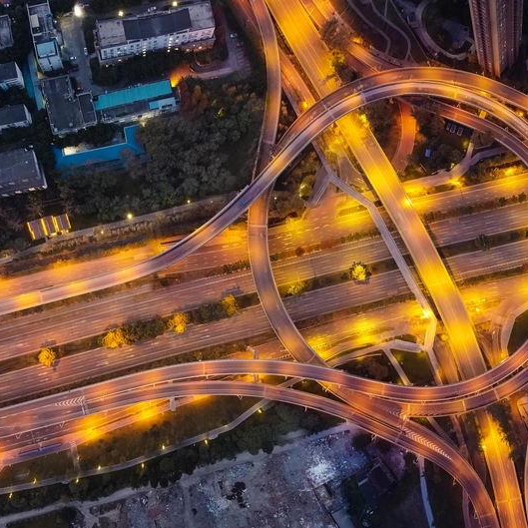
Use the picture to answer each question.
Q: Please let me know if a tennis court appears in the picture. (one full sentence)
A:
No, there isn't any tennis court down there.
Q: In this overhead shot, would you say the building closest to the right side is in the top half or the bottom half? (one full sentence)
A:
Seen from above, the building closest to the right side lies in the top half of the view.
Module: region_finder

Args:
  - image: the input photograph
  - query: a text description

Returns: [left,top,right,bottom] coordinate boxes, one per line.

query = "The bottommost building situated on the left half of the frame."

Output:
[27,215,74,240]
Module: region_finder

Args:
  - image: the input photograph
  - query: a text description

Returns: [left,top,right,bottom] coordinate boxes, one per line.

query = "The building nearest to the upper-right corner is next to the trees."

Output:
[475,0,523,75]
